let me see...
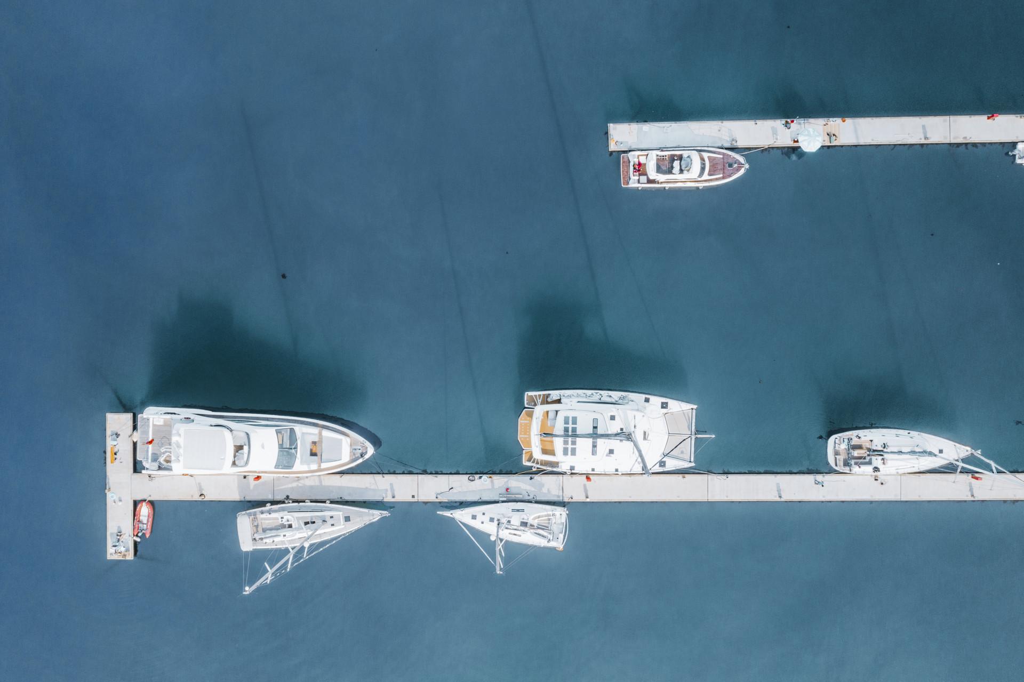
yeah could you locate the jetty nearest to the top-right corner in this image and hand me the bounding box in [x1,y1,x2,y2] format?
[608,114,1024,152]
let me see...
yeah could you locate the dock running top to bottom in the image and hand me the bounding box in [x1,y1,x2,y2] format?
[107,412,134,559]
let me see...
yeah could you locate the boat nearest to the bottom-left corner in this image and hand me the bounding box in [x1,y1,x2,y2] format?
[134,500,154,537]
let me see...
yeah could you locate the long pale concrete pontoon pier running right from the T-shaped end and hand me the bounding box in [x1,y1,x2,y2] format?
[132,473,1024,501]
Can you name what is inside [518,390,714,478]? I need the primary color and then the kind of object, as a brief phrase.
white boat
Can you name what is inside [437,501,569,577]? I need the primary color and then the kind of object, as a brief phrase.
white boat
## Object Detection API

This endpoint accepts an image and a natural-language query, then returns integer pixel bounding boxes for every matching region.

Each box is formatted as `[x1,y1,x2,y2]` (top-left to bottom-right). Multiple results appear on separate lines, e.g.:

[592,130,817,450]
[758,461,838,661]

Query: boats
[518,390,714,478]
[821,427,1024,496]
[437,501,569,577]
[137,405,383,477]
[134,500,154,537]
[621,147,752,189]
[234,502,391,599]
[1006,142,1024,164]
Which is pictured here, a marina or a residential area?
marina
